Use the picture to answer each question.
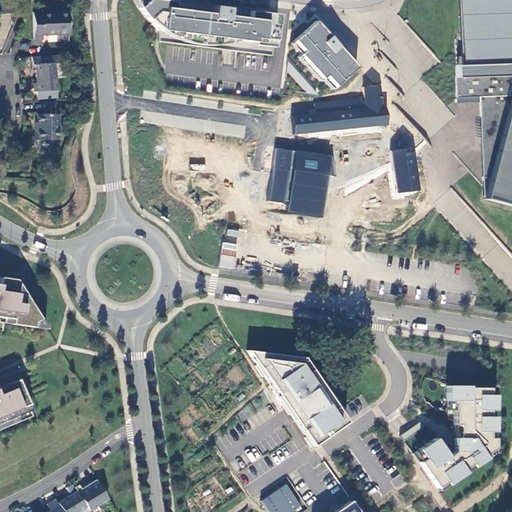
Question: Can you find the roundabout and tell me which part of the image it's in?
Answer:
left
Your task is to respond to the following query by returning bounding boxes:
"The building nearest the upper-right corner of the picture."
[458,0,512,65]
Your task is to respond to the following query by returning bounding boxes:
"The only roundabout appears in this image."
[72,222,176,326]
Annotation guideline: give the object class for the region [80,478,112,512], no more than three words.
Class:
house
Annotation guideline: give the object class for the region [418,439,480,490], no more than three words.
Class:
building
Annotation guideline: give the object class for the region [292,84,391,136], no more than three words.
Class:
house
